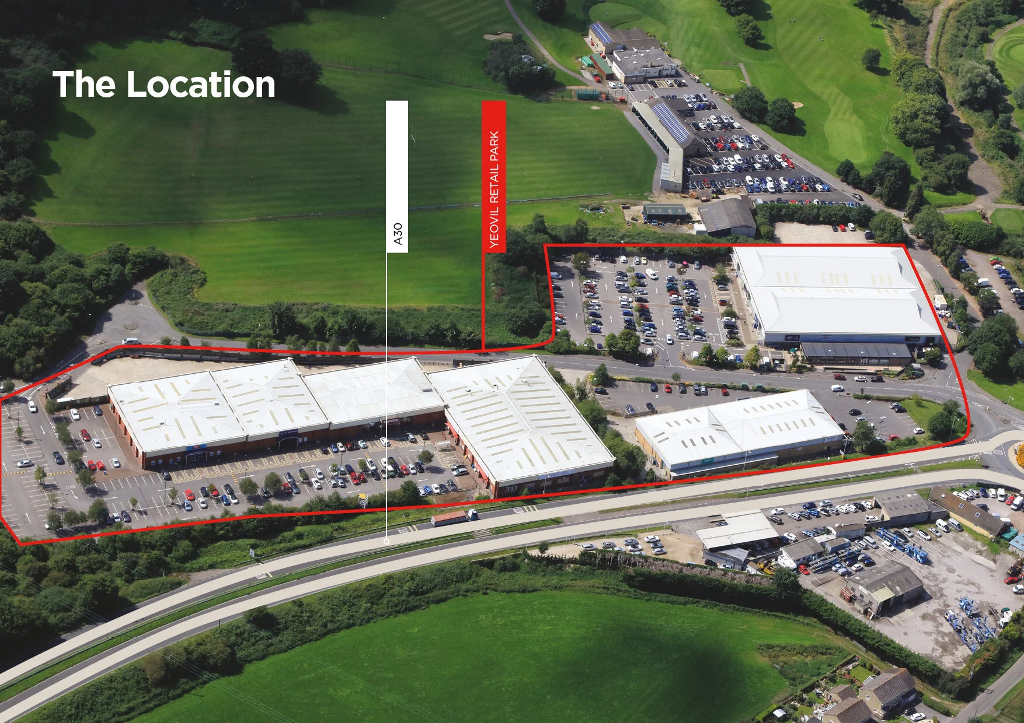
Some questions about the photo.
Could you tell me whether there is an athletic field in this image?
Yes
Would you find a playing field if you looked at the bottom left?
No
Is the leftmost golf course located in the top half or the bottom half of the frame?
top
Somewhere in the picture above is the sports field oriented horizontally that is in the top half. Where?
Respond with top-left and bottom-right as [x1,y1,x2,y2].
[30,32,655,223]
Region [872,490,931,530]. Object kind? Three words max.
shed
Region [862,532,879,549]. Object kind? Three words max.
vehicle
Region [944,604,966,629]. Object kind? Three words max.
truck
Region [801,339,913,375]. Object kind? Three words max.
building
